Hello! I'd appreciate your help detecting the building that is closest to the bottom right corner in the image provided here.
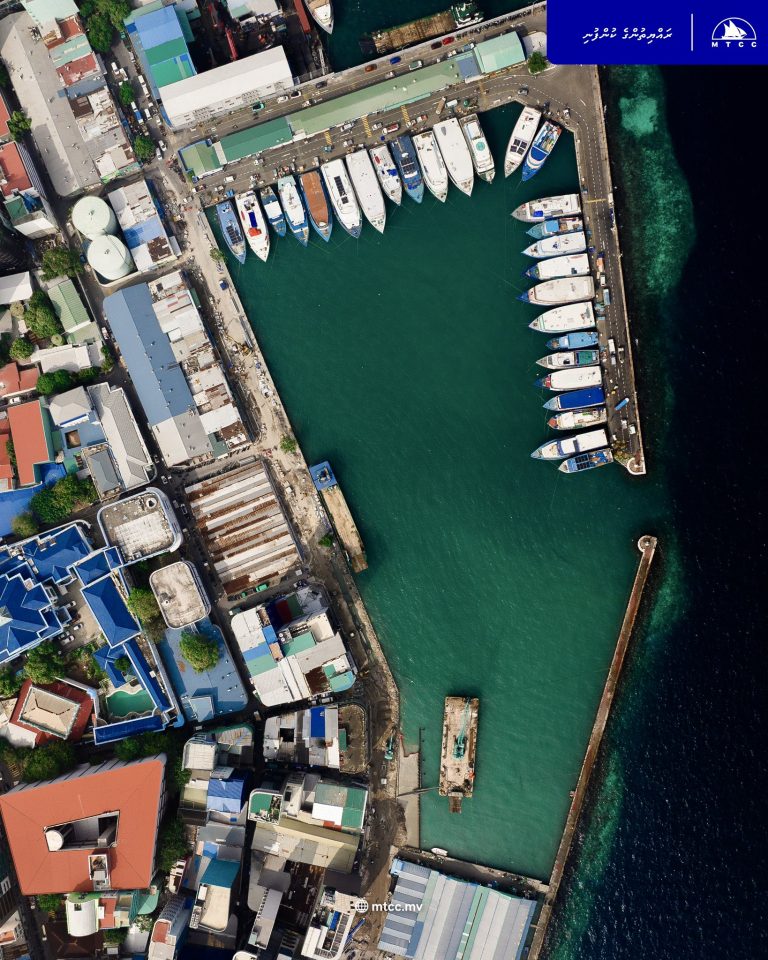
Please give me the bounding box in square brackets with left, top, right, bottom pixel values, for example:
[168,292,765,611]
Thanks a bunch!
[376,854,539,960]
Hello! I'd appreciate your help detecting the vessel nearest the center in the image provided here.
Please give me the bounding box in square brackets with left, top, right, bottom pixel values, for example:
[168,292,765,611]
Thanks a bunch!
[309,460,369,577]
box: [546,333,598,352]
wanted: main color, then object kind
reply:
blue boat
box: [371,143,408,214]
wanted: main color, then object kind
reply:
white boat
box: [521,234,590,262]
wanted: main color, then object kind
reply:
white boat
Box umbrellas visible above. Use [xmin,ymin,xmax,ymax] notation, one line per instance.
[52,335,64,346]
[10,301,24,315]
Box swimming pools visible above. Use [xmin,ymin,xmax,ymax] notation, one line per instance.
[104,682,163,723]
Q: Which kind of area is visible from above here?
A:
port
